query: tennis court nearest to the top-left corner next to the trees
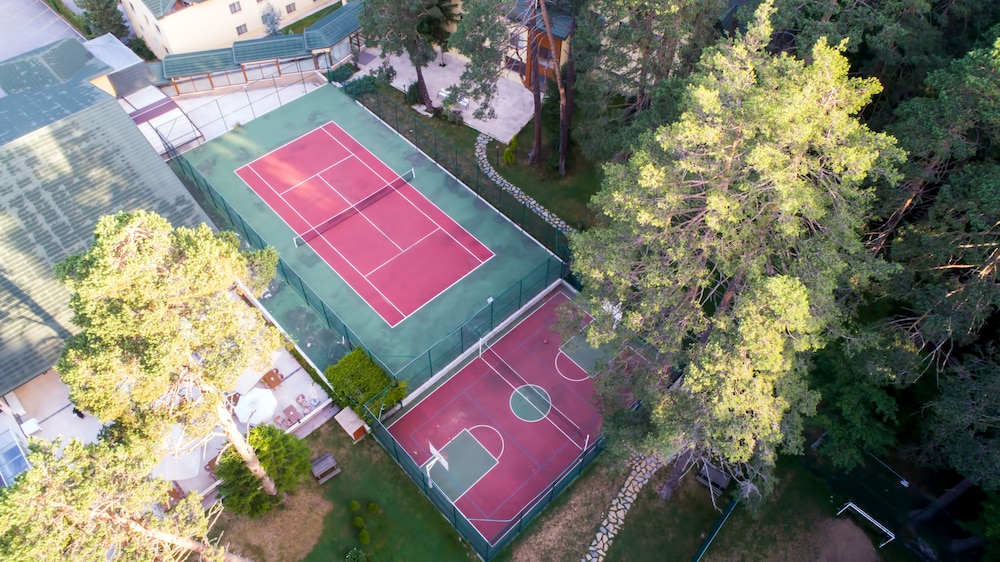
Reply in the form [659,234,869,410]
[169,82,572,395]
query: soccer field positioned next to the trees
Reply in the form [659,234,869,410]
[727,455,937,562]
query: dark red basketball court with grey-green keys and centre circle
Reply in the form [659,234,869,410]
[377,282,677,557]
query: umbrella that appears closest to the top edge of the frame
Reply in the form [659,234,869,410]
[238,393,277,428]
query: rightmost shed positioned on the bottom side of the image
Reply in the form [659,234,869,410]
[330,407,365,445]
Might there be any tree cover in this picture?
Yes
